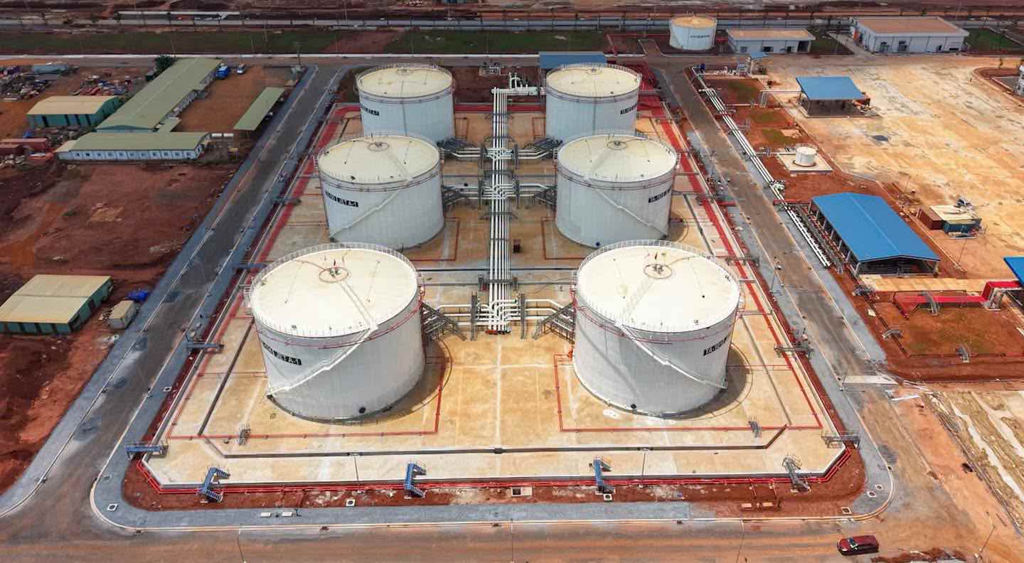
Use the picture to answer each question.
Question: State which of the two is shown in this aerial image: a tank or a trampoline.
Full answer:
Looking from above, you can make out a tank.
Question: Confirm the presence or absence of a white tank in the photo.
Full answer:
Yes, this view includes a white tank.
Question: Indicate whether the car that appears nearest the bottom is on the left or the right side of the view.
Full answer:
The car that appears nearest the bottom is on the right side of the image.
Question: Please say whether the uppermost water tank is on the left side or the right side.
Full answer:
The uppermost water tank is on the right side of the image.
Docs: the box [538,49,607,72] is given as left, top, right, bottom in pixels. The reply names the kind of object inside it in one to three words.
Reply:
building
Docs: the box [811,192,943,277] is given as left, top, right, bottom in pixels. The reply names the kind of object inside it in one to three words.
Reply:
shed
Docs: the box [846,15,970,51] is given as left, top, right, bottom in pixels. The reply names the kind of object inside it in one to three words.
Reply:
building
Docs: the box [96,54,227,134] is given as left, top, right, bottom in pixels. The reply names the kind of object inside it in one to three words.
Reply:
shed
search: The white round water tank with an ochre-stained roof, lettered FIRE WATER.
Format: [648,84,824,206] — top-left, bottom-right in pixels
[670,13,722,51]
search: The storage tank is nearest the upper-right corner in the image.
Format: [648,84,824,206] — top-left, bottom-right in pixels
[776,139,833,171]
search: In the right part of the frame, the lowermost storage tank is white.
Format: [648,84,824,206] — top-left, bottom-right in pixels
[570,240,753,420]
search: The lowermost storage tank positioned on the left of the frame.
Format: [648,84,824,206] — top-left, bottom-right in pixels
[240,242,427,423]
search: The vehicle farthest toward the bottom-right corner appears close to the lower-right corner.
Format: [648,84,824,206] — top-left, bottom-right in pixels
[839,534,884,557]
